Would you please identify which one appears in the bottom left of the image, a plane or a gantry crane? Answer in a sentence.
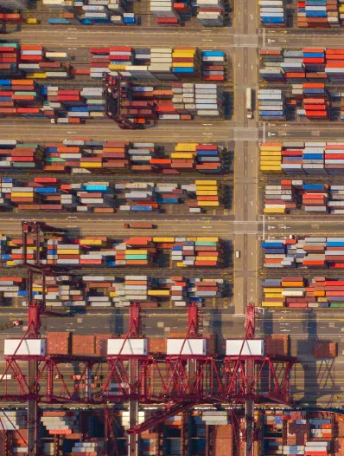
It is a gantry crane that can be seen in the bottom left of the image.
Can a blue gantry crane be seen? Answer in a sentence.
No, the picture doesn't show any blue gantry crane.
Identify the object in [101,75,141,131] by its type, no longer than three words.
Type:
container crane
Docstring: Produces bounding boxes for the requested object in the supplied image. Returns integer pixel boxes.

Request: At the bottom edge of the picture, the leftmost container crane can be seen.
[0,303,109,456]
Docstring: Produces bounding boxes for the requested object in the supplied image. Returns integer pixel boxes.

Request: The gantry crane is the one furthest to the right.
[222,303,306,456]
